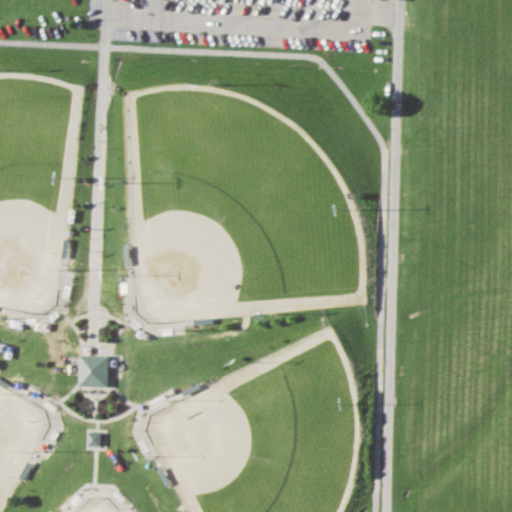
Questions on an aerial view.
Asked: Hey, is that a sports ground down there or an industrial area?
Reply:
sports ground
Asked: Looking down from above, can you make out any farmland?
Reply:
Yes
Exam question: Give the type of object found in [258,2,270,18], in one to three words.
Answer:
vehicle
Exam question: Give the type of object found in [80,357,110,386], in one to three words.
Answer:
building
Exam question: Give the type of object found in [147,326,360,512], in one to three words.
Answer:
baseball field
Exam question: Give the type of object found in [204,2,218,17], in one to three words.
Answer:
vehicle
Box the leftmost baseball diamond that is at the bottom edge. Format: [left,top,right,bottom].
[0,389,48,512]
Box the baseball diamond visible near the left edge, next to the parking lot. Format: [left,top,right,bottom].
[0,72,83,313]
